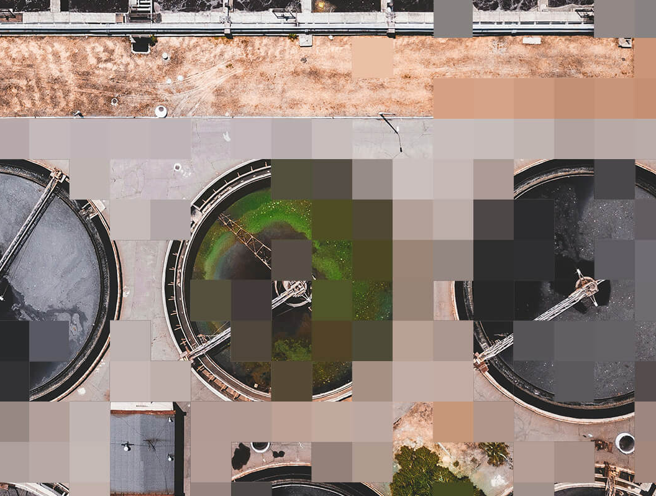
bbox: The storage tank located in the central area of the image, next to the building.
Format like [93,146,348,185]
[162,153,435,424]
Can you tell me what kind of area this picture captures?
industrial area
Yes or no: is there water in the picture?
Yes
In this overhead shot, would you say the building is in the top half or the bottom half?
bottom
